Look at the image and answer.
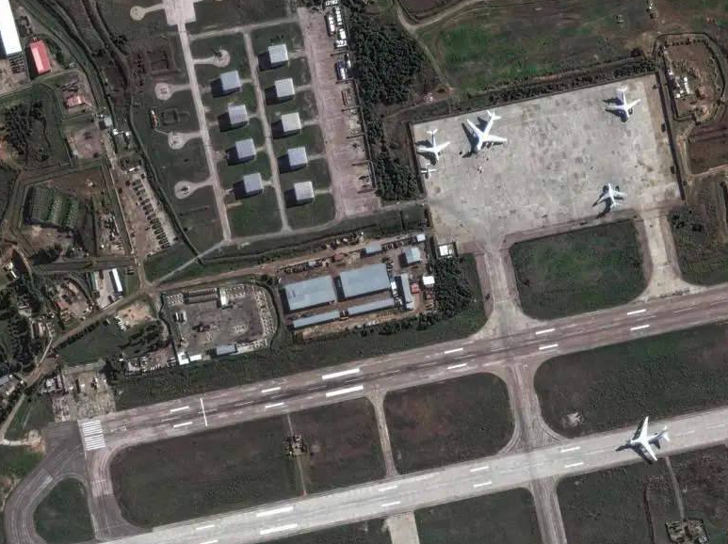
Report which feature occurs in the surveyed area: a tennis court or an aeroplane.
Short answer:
aeroplane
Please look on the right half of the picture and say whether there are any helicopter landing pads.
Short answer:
No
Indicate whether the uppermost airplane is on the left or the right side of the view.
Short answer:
right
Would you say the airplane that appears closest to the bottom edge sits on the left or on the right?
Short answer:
right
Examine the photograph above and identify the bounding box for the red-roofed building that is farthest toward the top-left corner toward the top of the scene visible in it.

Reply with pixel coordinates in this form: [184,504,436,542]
[29,40,52,74]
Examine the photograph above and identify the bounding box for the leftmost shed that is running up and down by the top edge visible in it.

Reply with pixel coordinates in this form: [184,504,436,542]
[0,0,22,57]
